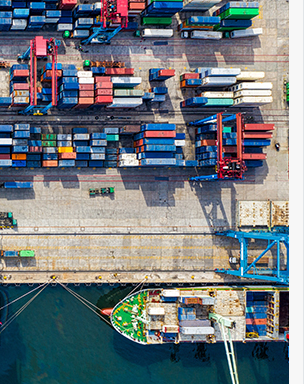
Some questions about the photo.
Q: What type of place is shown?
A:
port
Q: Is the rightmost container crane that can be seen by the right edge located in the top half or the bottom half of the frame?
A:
bottom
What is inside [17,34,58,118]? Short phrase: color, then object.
red container crane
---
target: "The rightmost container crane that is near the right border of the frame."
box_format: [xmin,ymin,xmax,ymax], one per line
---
[217,220,304,317]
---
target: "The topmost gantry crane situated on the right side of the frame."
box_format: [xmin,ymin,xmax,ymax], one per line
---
[187,113,244,185]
